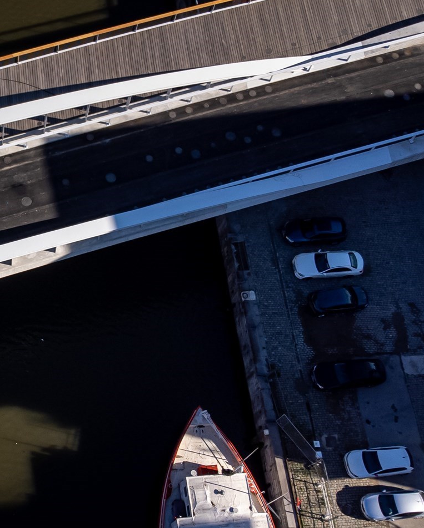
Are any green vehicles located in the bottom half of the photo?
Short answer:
No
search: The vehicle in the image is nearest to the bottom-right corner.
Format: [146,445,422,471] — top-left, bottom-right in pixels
[358,486,424,525]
